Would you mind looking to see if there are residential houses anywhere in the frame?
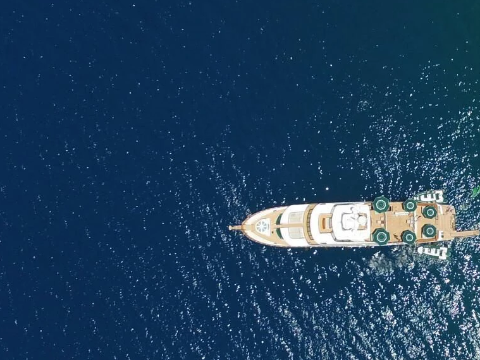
No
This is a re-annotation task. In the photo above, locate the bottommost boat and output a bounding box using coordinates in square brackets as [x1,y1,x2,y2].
[416,244,454,259]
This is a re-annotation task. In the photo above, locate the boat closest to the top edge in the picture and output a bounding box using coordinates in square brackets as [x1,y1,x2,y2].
[412,189,450,202]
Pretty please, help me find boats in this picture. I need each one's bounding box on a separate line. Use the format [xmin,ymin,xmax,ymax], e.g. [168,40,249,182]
[412,189,450,202]
[416,244,454,259]
[228,201,480,247]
